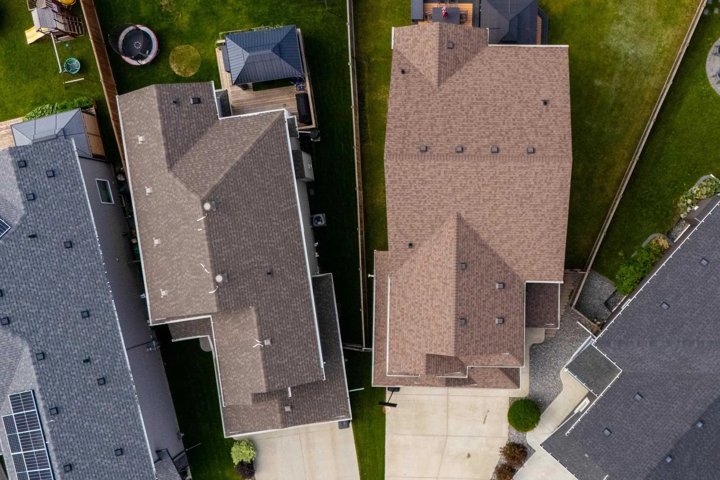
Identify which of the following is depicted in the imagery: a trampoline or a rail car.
trampoline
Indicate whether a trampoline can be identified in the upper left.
Yes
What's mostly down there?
buildings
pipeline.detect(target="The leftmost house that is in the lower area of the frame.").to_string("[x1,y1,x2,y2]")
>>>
[0,137,202,480]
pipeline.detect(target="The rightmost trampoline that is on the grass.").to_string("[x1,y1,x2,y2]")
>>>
[107,18,162,67]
